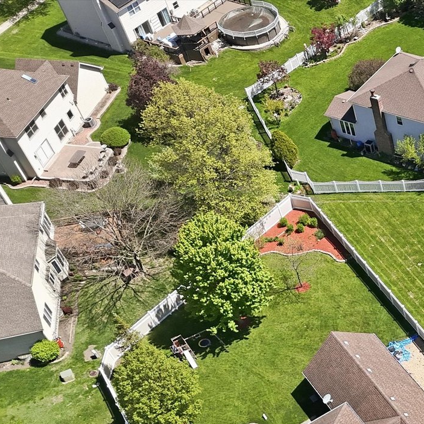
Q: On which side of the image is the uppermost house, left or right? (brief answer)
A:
left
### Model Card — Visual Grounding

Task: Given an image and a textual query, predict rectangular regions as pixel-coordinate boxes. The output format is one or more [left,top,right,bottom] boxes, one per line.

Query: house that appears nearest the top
[68,0,185,50]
